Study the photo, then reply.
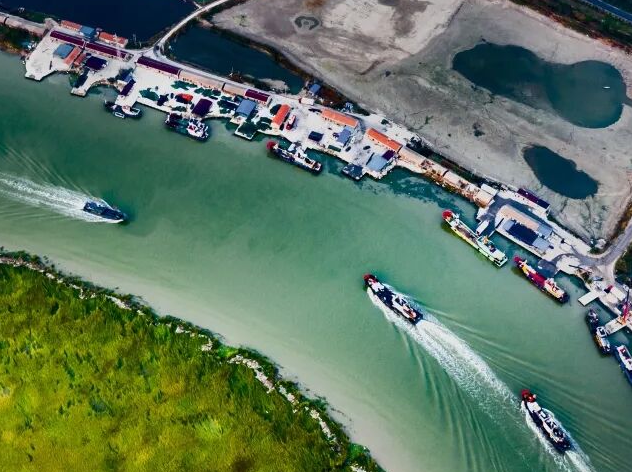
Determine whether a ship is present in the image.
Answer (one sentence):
Yes, there's a ship down there.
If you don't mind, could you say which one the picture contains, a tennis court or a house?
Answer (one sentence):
This aerial view contains a house.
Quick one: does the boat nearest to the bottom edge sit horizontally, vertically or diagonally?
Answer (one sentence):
The boat nearest to the bottom edge has been laid out diagonally relative to the frame.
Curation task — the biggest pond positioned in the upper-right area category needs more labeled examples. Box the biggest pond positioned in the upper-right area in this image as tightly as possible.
[453,44,627,129]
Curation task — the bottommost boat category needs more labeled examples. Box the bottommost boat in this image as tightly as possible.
[522,390,578,454]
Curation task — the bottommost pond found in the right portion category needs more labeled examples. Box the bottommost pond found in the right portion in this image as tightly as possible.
[523,146,597,200]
